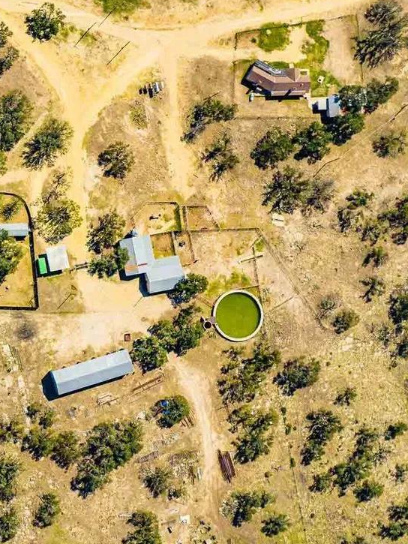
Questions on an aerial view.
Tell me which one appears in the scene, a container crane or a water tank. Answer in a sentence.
Of the two, only a water tank appears.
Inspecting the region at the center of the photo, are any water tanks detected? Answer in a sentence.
Yes, there is a water tank at the center of the photo.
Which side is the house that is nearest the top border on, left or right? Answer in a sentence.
It is on the right.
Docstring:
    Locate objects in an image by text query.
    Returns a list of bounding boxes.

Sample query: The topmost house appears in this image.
[243,59,312,97]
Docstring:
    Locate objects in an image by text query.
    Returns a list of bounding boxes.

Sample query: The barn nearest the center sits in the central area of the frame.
[145,255,187,295]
